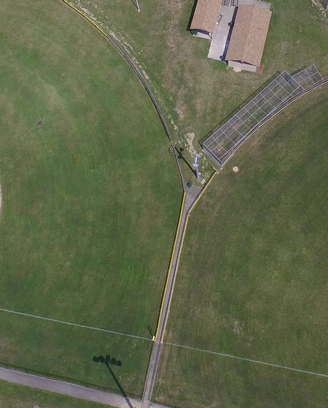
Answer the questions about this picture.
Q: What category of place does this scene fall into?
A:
sports ground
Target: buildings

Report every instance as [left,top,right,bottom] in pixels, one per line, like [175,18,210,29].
[190,0,223,39]
[226,5,270,70]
